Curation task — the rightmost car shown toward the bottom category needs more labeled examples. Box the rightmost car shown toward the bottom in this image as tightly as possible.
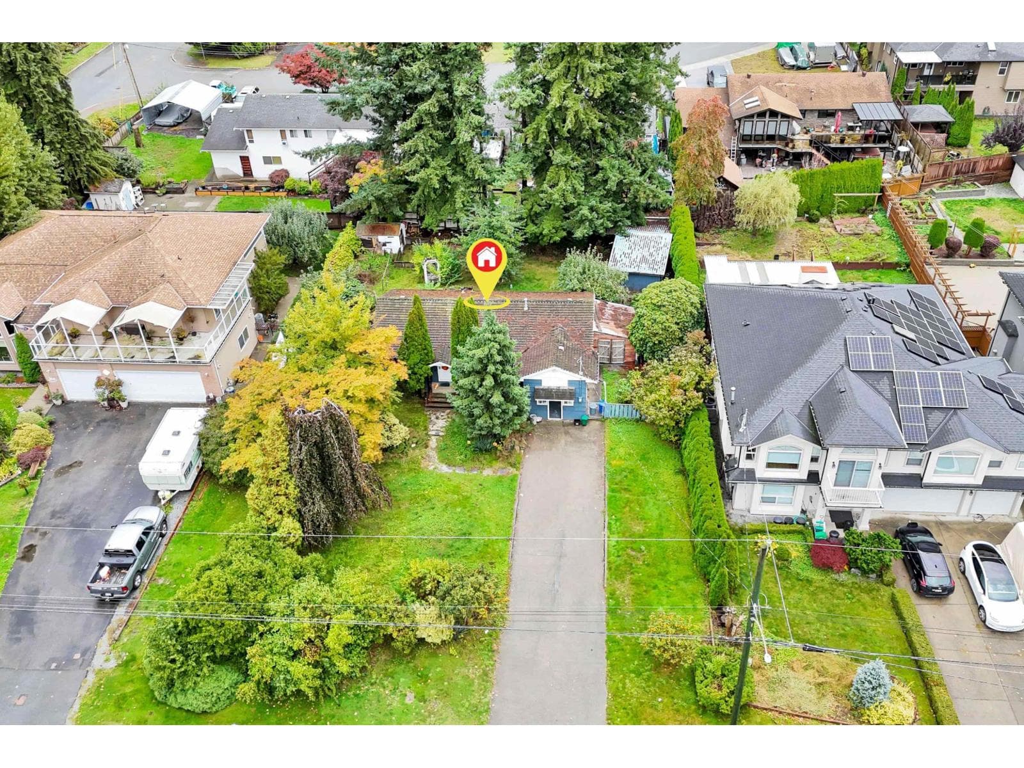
[961,542,1024,639]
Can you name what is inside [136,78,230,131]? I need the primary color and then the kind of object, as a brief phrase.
white tent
